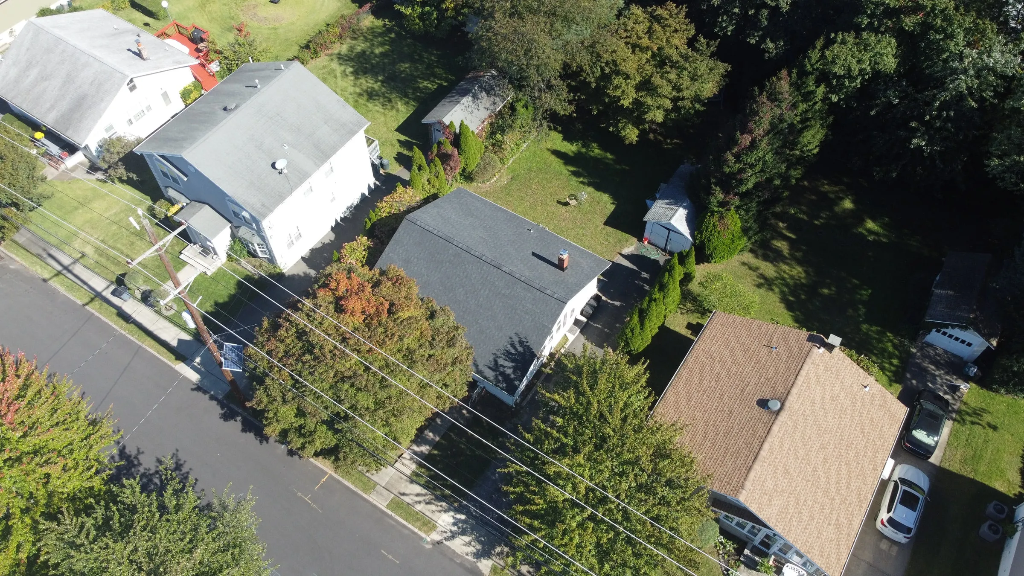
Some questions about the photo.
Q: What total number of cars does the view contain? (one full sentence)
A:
My tally gives 2 cars in this view.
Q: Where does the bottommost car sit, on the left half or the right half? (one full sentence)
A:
The bottommost car appears in the right half of the scene.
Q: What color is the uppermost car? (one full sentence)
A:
The uppermost car looks black in the image.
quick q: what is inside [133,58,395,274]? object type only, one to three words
house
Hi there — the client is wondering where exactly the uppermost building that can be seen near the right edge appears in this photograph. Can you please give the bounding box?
[917,251,1018,364]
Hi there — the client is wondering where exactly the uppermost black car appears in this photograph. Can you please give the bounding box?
[898,382,949,460]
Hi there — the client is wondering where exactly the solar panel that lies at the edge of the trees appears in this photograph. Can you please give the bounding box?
[222,342,244,372]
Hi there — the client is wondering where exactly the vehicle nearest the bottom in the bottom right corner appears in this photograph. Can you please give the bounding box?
[871,460,932,547]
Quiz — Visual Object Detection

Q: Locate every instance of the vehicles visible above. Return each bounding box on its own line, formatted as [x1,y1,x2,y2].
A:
[871,460,932,547]
[898,382,949,460]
